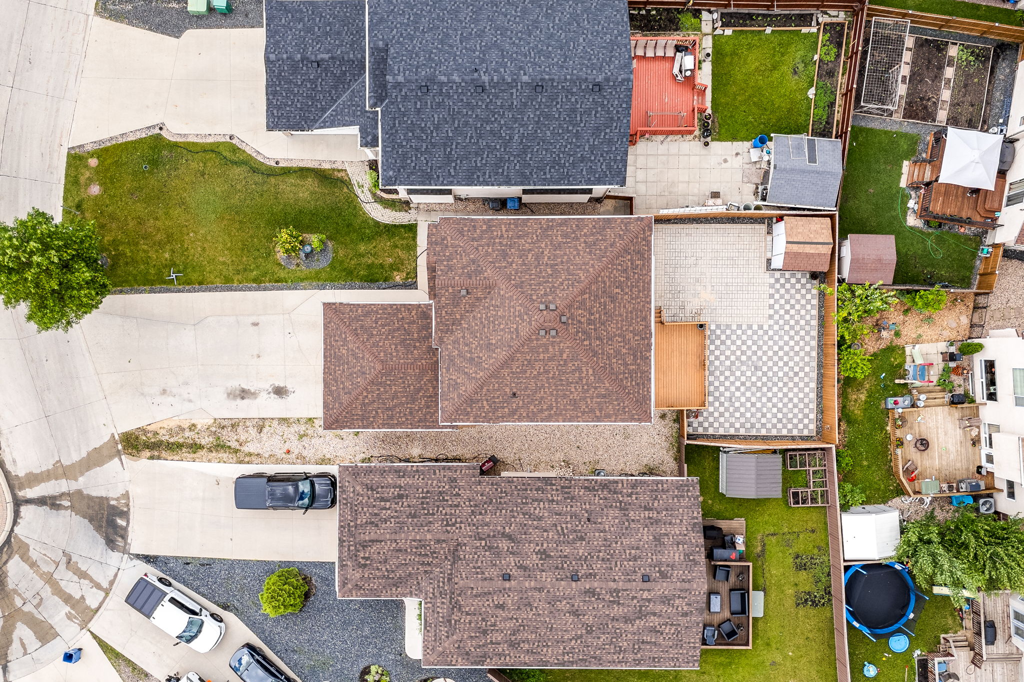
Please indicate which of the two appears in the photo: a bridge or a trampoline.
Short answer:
trampoline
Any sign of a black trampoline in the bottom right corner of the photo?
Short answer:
Yes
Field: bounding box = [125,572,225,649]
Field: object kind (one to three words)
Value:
truck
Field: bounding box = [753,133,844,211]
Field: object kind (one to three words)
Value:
shed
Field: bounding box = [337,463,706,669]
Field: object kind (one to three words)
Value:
house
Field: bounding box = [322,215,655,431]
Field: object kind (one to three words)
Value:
house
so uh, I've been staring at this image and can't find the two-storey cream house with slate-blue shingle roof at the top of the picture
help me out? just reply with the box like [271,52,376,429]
[257,0,634,207]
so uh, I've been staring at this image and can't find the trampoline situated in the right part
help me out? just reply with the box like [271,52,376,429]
[843,561,929,641]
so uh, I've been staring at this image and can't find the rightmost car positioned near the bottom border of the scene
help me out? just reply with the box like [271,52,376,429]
[233,642,306,682]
